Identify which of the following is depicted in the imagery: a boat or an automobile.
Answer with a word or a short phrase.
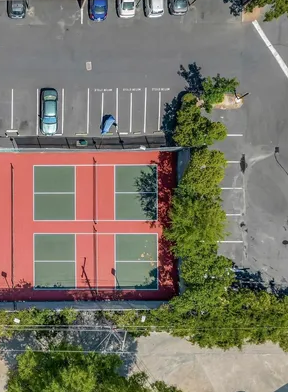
automobile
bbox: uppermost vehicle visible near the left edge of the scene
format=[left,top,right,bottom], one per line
[9,0,25,18]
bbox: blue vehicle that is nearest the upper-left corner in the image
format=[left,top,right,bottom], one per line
[88,0,106,20]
